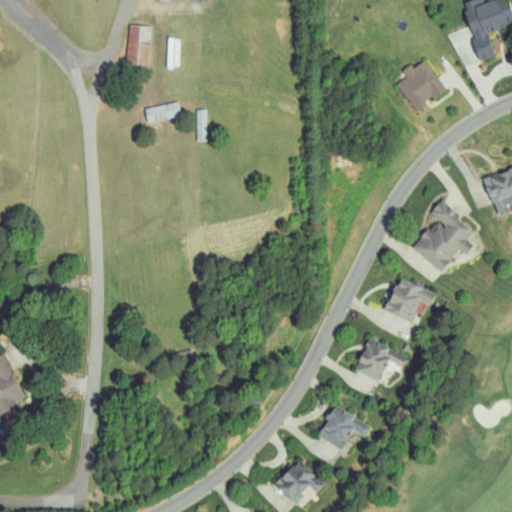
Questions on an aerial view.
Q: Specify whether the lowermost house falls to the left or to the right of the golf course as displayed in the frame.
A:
to its left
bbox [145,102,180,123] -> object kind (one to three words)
shed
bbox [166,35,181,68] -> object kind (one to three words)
shed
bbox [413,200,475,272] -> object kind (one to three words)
house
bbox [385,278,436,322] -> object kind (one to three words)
house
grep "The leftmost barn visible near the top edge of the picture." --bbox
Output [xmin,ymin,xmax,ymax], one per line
[128,24,152,66]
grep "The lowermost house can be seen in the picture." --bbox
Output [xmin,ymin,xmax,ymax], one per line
[276,462,324,504]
